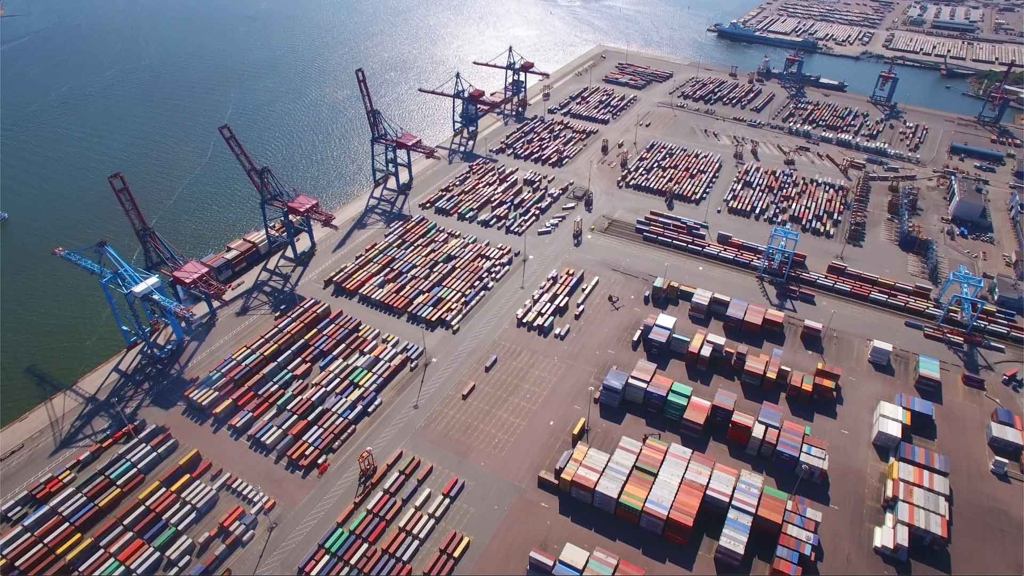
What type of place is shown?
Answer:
port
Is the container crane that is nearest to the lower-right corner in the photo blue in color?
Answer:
Yes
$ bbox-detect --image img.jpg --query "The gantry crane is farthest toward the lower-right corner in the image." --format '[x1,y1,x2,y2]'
[937,257,987,333]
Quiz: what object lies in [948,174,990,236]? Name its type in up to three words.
building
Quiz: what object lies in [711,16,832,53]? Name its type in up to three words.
ship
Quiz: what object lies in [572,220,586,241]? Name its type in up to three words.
work vehicle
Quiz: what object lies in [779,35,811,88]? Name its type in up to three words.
crane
